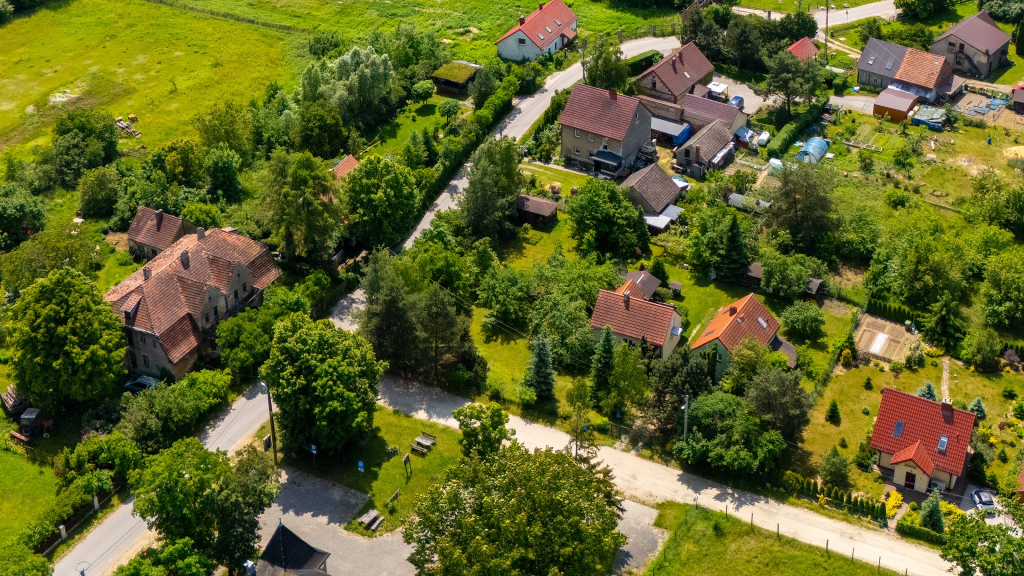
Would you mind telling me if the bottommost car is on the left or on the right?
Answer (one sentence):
You can find the bottommost car on the right side of the picture.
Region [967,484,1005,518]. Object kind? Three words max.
car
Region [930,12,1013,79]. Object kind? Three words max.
barn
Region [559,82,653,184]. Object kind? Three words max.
house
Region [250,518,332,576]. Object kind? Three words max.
building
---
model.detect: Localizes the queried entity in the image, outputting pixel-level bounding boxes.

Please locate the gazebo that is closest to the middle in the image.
[517,195,558,231]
